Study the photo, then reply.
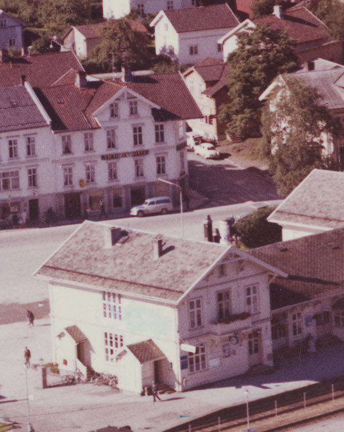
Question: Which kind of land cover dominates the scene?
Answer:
buildings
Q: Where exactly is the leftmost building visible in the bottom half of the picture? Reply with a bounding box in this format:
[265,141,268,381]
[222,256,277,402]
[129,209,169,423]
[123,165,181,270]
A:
[34,218,286,397]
